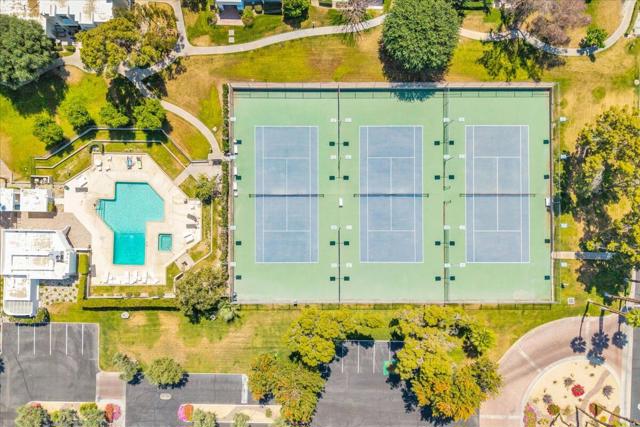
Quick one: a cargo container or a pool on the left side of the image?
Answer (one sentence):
It is a pool that can be seen on the left side of the image.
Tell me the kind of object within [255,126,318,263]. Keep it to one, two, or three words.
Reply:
tennis court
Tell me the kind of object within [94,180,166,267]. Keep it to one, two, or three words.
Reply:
swimming pool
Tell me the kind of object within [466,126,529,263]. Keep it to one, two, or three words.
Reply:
tennis court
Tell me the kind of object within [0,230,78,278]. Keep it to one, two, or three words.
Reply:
building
